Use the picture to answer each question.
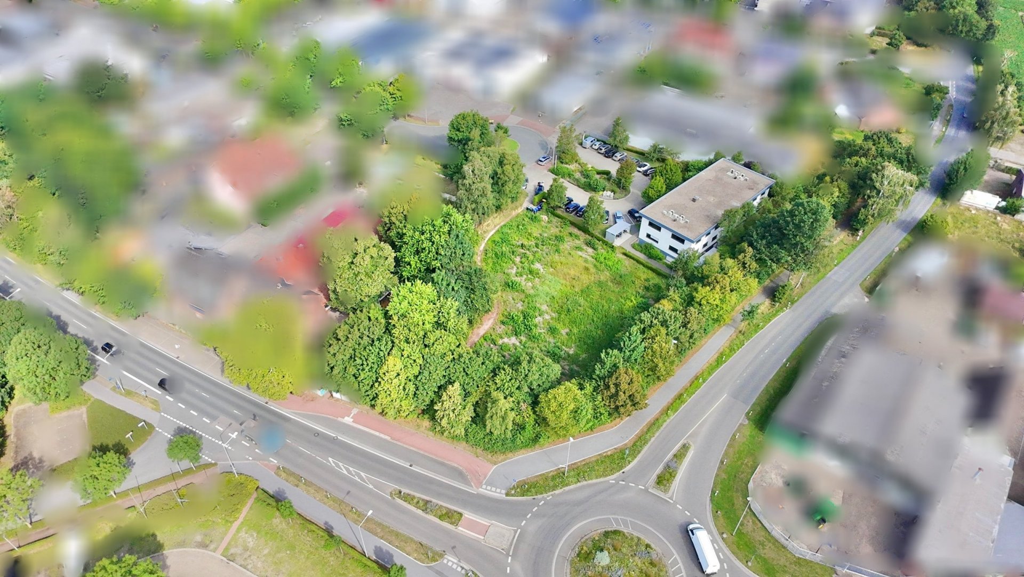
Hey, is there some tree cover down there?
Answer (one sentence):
Yes, tree cover shows up in the scene.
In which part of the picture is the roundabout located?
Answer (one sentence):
You can find the roundabout in the bottom area of the picture.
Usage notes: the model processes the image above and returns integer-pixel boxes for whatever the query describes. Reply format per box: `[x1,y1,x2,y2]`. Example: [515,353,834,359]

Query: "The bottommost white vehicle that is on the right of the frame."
[689,526,720,577]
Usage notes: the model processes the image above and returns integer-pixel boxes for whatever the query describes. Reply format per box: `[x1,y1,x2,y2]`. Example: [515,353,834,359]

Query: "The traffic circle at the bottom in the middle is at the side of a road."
[464,466,758,577]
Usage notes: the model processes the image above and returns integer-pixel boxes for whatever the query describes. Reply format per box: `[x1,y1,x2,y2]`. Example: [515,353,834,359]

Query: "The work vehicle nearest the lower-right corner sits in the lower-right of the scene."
[816,500,838,528]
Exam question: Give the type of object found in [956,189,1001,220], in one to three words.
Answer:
trailer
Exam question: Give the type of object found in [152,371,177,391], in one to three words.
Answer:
car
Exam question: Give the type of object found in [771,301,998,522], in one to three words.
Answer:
barn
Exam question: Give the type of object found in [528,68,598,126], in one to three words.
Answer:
building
